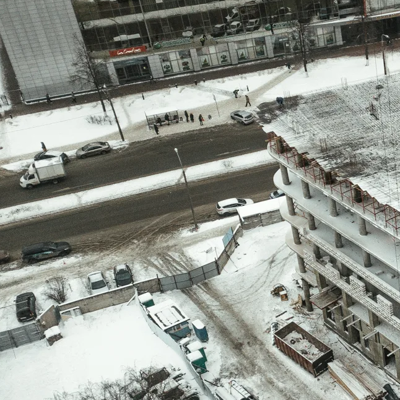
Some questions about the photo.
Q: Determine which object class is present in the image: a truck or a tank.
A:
truck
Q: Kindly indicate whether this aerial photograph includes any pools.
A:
No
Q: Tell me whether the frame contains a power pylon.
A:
No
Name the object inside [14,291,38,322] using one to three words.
car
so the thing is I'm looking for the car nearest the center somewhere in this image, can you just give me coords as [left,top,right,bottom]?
[216,195,253,215]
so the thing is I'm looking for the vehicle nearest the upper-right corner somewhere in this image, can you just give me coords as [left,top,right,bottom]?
[227,108,257,124]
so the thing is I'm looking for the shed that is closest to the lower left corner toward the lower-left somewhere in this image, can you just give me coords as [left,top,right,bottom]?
[43,325,66,346]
